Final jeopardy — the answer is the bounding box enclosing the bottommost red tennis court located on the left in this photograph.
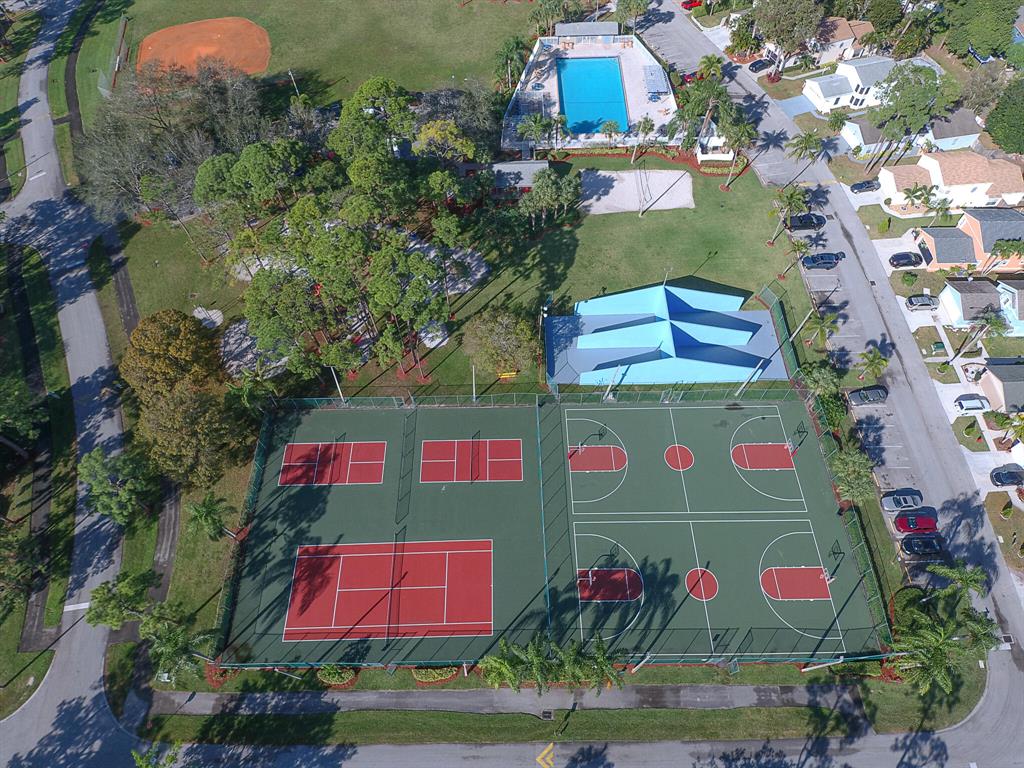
[283,533,492,647]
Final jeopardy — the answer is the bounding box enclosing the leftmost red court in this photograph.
[278,437,387,487]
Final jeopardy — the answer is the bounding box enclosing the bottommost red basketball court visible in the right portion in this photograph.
[572,519,846,655]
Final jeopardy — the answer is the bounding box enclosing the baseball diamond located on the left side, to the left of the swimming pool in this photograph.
[135,17,273,113]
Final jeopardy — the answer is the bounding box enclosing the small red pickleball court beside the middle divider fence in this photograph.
[420,436,525,484]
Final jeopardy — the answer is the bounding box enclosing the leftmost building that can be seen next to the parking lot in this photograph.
[555,21,620,44]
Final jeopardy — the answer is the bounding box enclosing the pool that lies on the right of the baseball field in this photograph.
[502,42,679,151]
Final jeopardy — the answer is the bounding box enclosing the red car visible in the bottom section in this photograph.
[896,513,944,534]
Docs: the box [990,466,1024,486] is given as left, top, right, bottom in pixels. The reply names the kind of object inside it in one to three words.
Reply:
car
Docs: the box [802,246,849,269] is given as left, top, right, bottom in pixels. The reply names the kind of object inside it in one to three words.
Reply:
car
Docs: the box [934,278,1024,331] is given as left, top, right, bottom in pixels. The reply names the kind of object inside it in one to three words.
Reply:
house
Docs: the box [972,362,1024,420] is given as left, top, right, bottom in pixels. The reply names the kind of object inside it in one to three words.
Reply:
house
